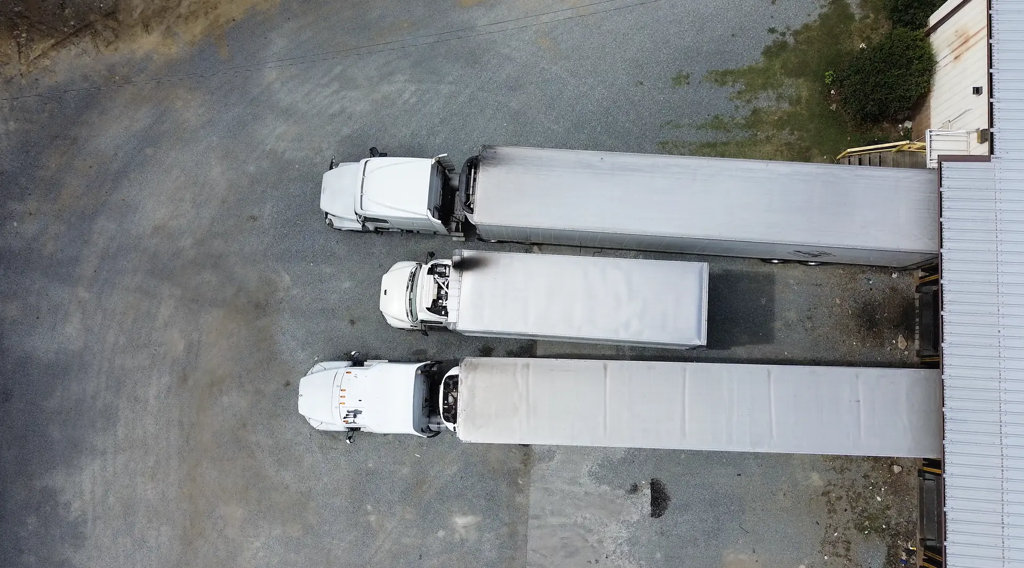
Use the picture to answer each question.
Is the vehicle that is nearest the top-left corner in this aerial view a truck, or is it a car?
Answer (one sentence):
The vehicle that is nearest the top-left corner is a truck.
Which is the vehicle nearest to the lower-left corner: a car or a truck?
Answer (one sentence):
From above, the vehicle nearest to the lower-left corner can be identified as a truck.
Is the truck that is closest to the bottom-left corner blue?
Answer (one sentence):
No, from above the truck that is closest to the bottom-left corner looks white.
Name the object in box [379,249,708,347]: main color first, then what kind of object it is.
white truck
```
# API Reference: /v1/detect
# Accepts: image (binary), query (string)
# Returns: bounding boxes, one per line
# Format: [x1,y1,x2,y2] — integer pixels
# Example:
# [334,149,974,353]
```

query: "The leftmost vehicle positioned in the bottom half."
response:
[298,350,451,445]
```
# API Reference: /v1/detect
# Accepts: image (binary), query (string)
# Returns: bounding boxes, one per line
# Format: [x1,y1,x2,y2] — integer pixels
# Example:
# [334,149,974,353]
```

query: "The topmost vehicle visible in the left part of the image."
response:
[320,147,466,244]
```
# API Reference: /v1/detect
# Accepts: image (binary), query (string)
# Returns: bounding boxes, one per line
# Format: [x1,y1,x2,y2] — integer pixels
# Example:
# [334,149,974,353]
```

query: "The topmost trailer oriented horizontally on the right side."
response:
[457,145,940,268]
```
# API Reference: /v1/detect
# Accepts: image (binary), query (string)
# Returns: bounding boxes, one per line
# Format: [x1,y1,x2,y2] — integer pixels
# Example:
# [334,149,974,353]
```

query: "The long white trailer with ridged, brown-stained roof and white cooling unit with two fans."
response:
[440,356,943,458]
